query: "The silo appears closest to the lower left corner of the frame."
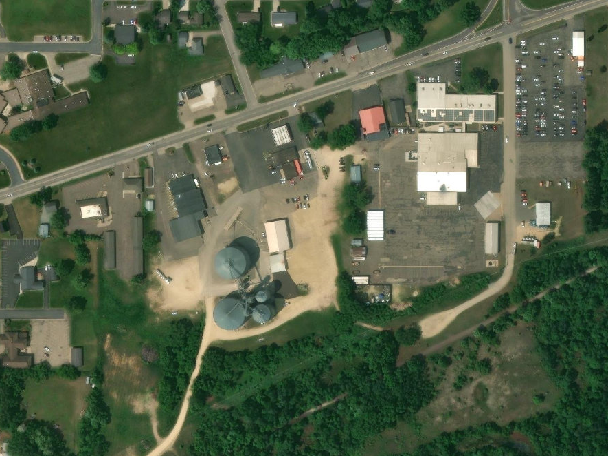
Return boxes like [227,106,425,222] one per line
[212,298,245,330]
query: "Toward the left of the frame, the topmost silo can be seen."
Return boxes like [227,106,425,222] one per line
[214,247,246,279]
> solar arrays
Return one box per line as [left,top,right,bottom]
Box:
[484,111,494,122]
[454,110,474,122]
[419,110,435,122]
[437,110,453,122]
[475,110,483,122]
